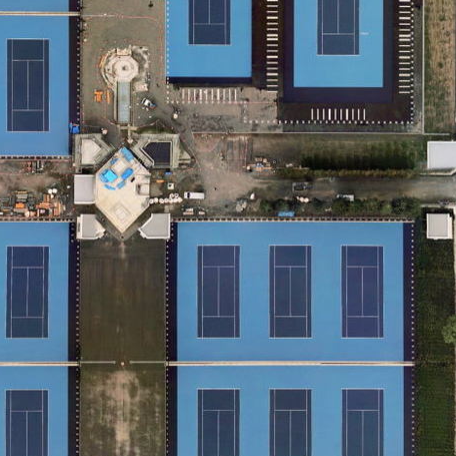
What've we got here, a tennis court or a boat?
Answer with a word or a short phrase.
tennis court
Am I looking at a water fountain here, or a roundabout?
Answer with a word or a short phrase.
water fountain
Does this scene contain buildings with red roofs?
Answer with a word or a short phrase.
No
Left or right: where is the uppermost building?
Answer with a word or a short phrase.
right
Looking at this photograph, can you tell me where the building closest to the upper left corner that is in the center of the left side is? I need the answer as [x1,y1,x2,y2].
[74,175,94,204]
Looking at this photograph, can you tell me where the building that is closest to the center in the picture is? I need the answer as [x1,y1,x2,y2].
[138,213,170,239]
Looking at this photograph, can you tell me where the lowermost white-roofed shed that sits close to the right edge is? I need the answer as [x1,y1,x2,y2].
[427,213,453,239]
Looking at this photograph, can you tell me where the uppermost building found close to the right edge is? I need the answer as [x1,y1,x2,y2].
[425,142,456,168]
